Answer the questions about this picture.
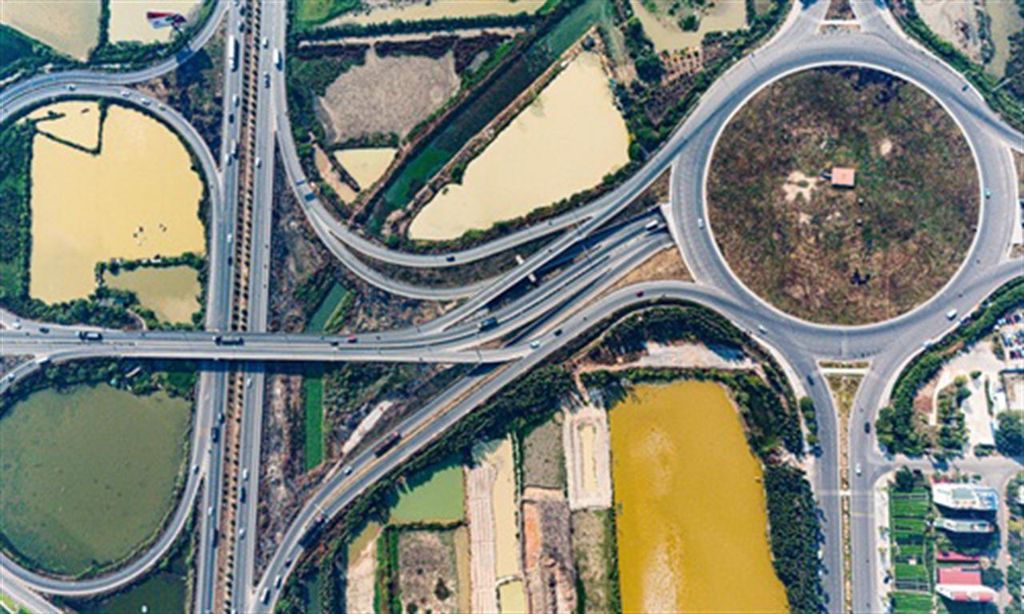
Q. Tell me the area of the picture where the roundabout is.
right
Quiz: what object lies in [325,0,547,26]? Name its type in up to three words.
pond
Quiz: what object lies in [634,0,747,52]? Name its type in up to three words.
pond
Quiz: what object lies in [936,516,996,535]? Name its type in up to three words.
house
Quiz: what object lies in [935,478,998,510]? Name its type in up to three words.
house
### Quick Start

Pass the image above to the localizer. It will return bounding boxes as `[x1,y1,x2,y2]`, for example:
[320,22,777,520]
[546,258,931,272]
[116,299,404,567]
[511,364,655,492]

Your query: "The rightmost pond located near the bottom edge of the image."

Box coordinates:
[611,381,791,614]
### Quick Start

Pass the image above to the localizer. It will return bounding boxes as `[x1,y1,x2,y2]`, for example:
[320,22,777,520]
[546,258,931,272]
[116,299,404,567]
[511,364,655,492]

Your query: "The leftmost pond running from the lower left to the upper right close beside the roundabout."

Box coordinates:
[409,51,630,240]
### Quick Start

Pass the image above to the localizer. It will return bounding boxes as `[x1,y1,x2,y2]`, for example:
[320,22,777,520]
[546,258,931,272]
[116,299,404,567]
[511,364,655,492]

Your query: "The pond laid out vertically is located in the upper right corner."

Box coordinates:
[986,0,1019,79]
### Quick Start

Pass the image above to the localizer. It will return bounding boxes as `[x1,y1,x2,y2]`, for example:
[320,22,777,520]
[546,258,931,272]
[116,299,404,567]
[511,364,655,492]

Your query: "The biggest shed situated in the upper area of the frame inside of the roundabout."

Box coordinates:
[834,165,859,184]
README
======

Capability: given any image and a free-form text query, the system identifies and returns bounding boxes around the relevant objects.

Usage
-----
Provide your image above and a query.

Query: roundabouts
[668,0,1024,614]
